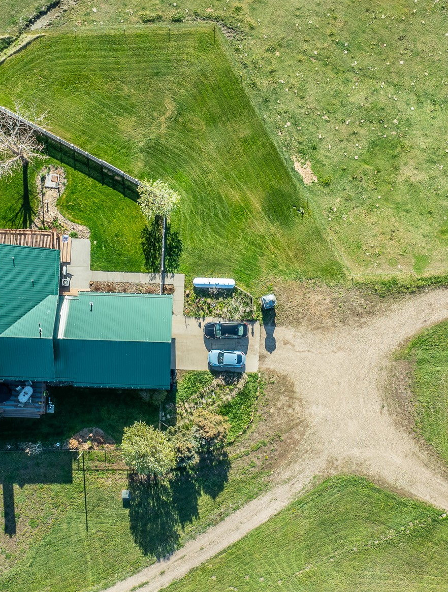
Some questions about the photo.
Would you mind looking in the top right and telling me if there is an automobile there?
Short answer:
No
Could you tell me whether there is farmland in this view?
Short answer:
Yes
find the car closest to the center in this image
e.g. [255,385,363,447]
[204,321,248,340]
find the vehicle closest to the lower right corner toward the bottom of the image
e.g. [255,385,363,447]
[208,350,245,369]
